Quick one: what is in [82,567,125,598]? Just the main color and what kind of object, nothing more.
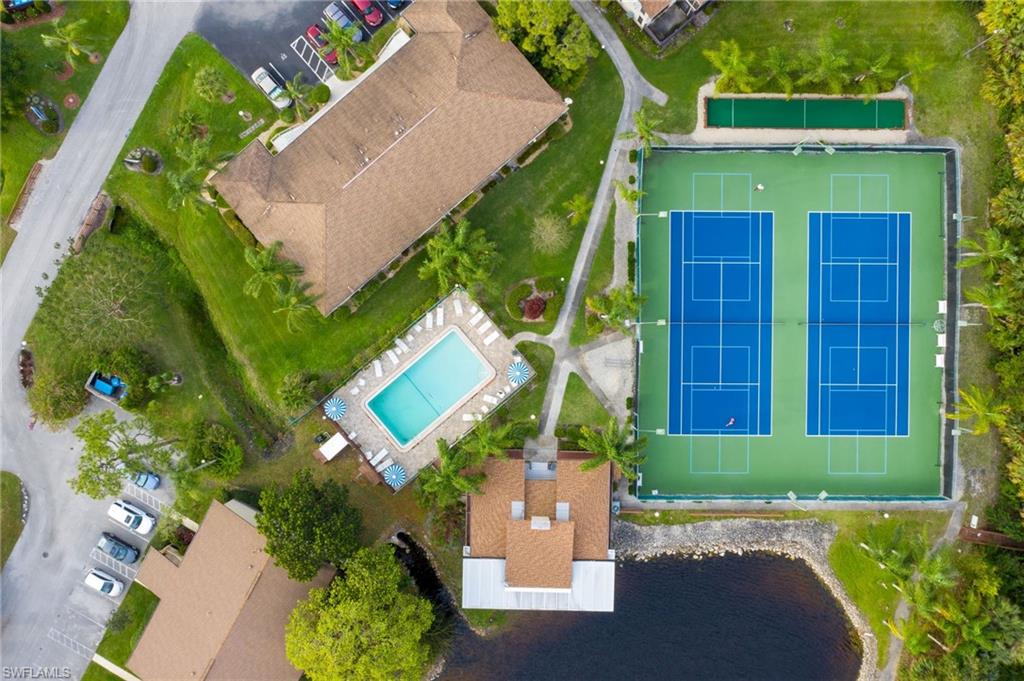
white car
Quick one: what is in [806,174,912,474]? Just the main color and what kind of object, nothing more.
blue tennis court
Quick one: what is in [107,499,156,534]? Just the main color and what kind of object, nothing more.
white car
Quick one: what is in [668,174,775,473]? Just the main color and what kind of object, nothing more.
blue tennis court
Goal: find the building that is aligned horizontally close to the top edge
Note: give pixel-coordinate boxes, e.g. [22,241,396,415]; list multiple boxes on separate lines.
[618,0,718,47]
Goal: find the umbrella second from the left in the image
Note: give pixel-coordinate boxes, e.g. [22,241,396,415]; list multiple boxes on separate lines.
[384,464,407,487]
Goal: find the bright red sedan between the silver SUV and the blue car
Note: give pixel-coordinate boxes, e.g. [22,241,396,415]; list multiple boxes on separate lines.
[353,0,386,27]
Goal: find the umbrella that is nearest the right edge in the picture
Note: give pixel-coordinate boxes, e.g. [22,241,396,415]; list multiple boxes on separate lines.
[506,361,530,384]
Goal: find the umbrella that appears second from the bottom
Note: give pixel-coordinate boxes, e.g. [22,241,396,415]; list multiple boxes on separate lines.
[324,396,347,419]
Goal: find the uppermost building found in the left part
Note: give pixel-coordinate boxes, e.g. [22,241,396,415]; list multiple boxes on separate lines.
[208,0,566,316]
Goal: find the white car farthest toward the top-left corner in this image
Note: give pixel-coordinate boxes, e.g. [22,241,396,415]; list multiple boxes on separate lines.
[250,65,292,110]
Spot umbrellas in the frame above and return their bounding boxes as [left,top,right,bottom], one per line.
[506,361,530,384]
[324,396,347,419]
[384,464,407,487]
